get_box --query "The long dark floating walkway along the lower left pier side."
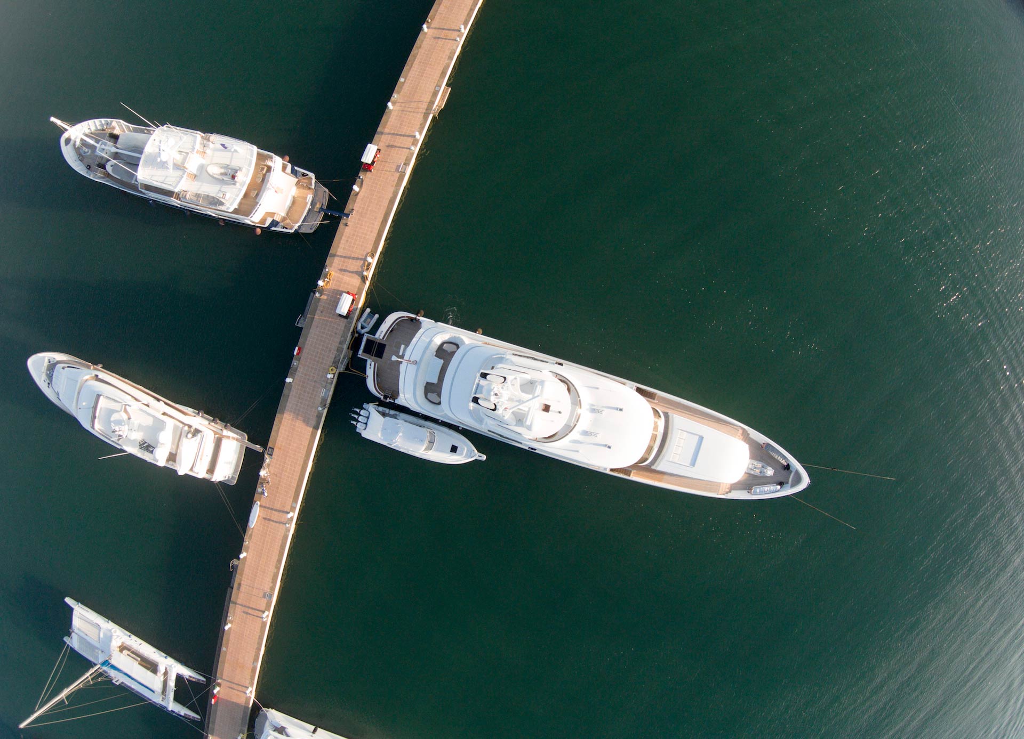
[201,564,239,739]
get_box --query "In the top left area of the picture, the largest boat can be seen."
[50,103,350,236]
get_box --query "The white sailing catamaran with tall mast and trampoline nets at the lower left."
[17,595,208,723]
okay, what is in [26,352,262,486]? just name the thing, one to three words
boat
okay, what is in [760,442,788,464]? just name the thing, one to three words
boat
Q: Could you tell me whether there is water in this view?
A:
Yes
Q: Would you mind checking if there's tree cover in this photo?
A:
No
